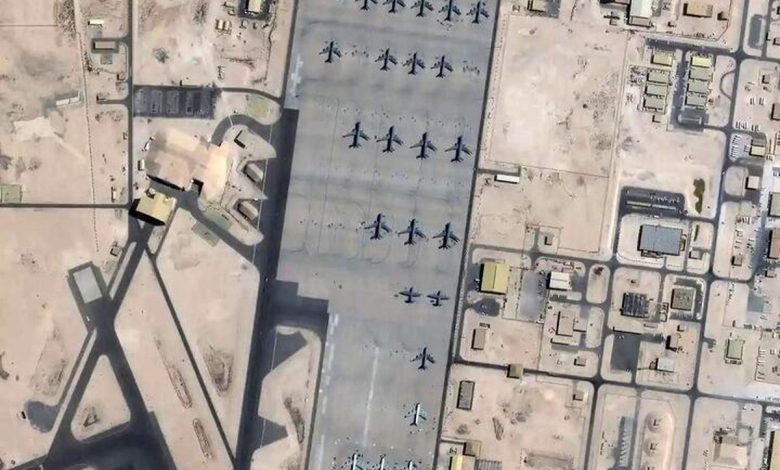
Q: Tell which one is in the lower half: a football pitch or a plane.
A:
plane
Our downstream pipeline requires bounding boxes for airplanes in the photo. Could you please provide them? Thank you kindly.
[404,460,415,470]
[377,126,403,153]
[411,133,436,159]
[376,49,396,70]
[371,457,388,470]
[466,1,488,24]
[445,136,470,162]
[344,121,369,149]
[365,213,390,240]
[342,452,364,470]
[403,53,424,74]
[411,0,432,16]
[438,0,459,21]
[405,403,427,426]
[428,291,449,306]
[320,41,340,62]
[431,56,452,77]
[433,222,458,249]
[384,0,405,13]
[412,347,434,369]
[398,219,423,245]
[400,287,420,302]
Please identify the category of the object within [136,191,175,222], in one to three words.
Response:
hangar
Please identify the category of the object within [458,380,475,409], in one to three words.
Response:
building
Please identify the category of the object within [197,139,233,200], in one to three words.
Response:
hangar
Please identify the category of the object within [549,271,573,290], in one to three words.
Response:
building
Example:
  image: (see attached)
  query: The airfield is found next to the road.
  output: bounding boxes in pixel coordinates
[5,0,495,470]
